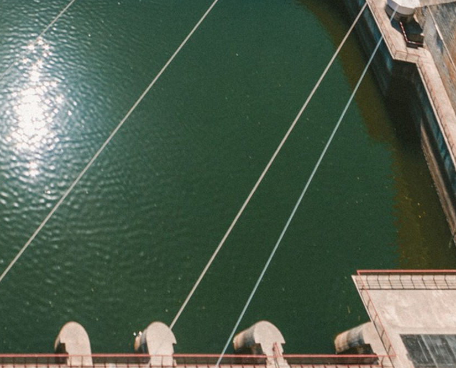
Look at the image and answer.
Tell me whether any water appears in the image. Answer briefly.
Yes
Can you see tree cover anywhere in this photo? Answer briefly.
No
